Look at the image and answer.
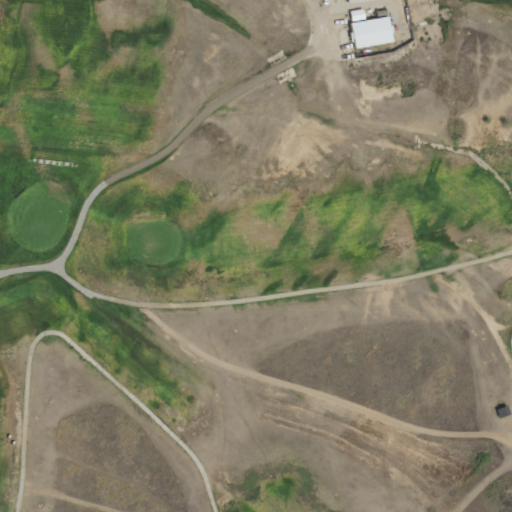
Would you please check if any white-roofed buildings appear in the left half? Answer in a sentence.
No, I see no white-roofed building in the left half.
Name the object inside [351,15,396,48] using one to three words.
building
